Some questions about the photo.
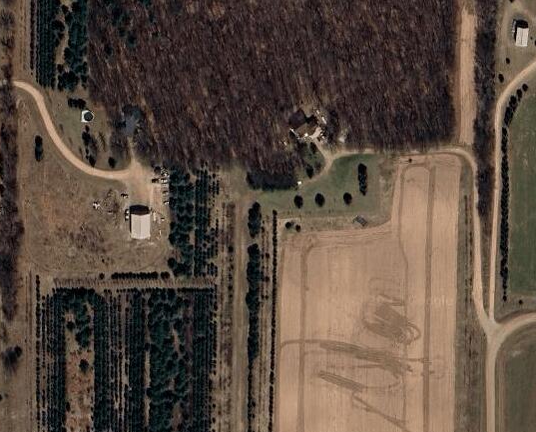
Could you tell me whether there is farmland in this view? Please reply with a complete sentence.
Yes, there's farmland in this view.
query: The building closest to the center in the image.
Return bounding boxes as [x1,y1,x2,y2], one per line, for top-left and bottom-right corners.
[287,109,320,136]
